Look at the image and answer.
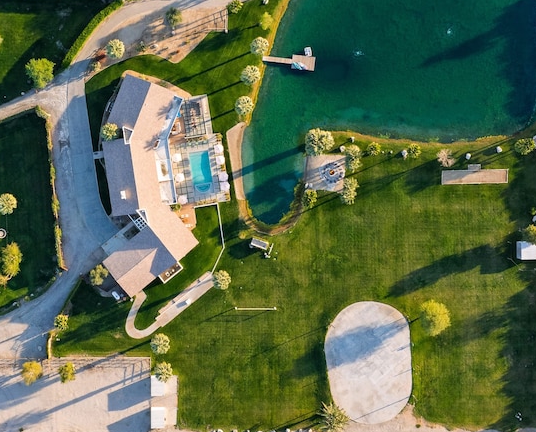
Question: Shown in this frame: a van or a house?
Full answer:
This aerial view contains a house.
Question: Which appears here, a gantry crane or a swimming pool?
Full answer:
The one in the frame is a swimming pool.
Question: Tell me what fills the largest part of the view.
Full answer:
For the most part, this view shows grass.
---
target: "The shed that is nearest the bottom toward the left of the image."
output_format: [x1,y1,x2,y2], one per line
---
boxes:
[150,404,164,428]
